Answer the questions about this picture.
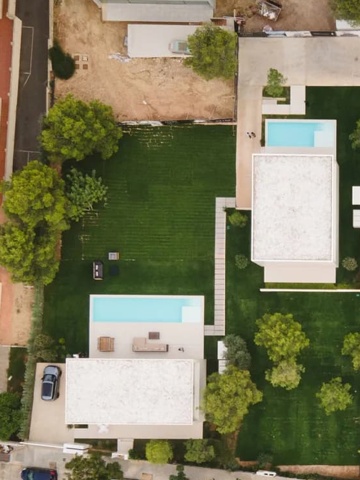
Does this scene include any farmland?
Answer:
No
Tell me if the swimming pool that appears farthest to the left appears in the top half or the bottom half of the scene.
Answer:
bottom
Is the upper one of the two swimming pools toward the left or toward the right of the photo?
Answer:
right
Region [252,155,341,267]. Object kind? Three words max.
house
